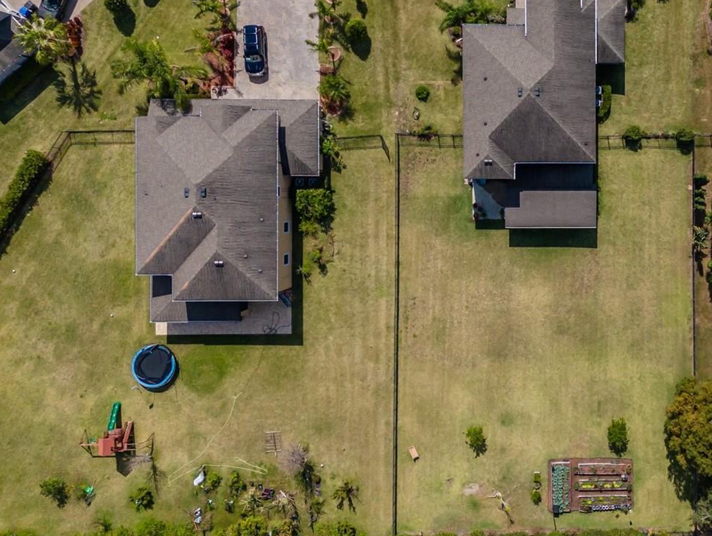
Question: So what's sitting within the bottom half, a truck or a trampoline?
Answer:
trampoline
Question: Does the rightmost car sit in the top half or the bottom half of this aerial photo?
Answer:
top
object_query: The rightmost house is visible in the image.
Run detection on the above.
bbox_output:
[462,0,625,198]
